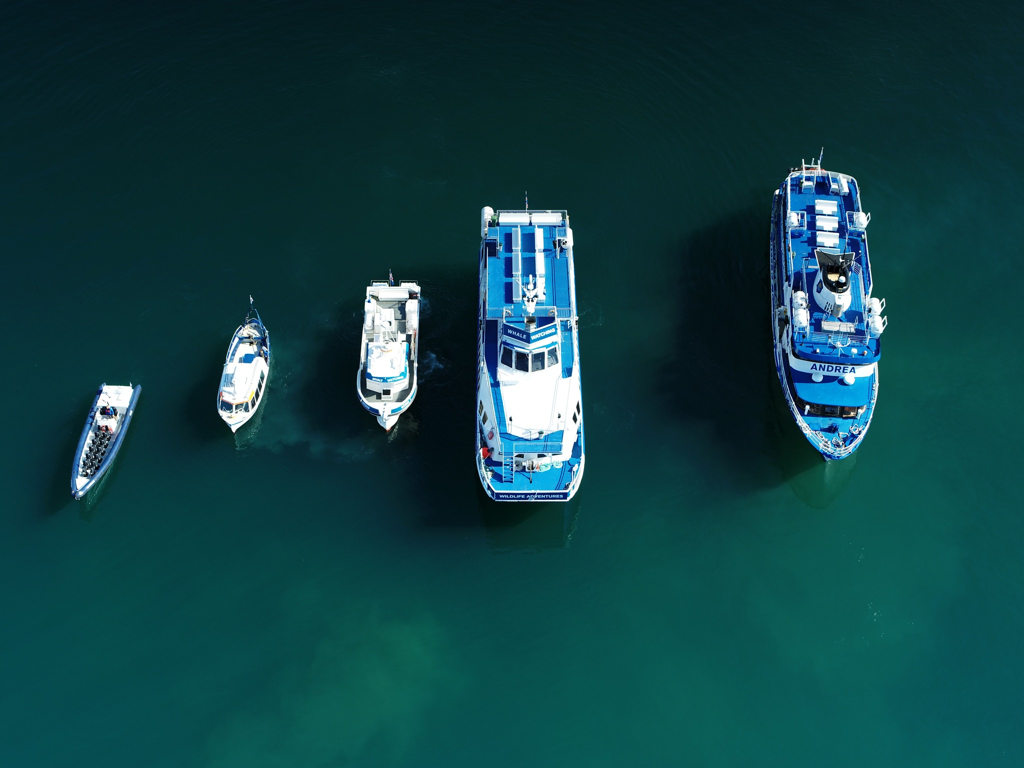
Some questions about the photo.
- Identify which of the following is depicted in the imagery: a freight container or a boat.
boat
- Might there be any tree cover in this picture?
No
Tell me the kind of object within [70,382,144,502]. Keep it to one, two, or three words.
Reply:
boat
